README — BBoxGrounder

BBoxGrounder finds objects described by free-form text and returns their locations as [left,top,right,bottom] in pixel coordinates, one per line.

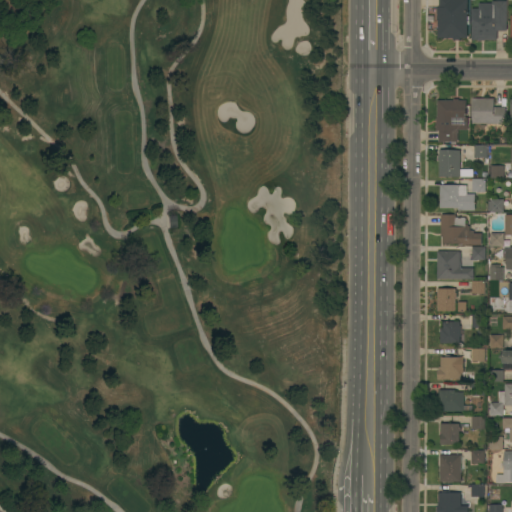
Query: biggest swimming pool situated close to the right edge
[492,214,506,232]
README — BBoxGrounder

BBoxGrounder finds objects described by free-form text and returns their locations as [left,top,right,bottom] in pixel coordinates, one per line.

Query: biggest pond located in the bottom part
[178,414,234,492]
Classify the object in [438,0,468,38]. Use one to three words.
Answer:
house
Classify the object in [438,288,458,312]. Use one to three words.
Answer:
house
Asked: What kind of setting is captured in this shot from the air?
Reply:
golf course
